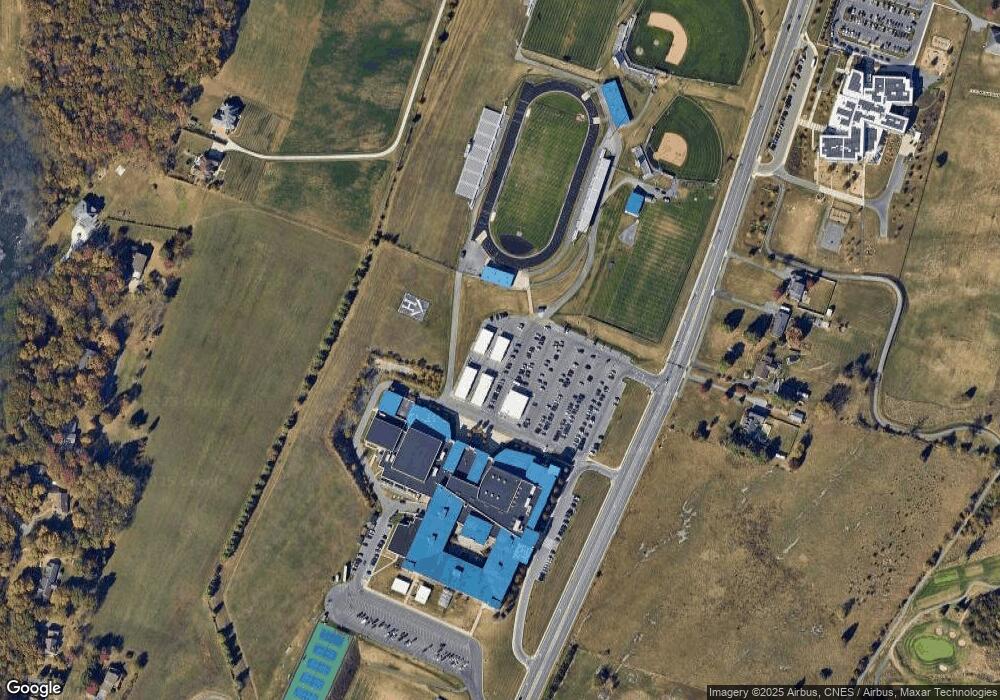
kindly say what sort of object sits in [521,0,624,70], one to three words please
sports field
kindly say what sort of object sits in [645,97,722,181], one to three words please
baseball field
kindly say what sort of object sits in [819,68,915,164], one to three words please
building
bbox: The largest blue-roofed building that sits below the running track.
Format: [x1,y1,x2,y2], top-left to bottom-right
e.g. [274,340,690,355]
[366,391,561,609]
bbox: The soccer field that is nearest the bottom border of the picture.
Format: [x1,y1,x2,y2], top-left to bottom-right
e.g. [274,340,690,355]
[588,186,724,343]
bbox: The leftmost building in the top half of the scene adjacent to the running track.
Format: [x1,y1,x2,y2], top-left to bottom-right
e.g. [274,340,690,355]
[480,264,518,289]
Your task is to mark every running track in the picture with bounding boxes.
[474,74,600,268]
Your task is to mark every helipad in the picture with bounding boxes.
[398,293,429,320]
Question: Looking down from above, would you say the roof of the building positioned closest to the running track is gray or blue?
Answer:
blue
